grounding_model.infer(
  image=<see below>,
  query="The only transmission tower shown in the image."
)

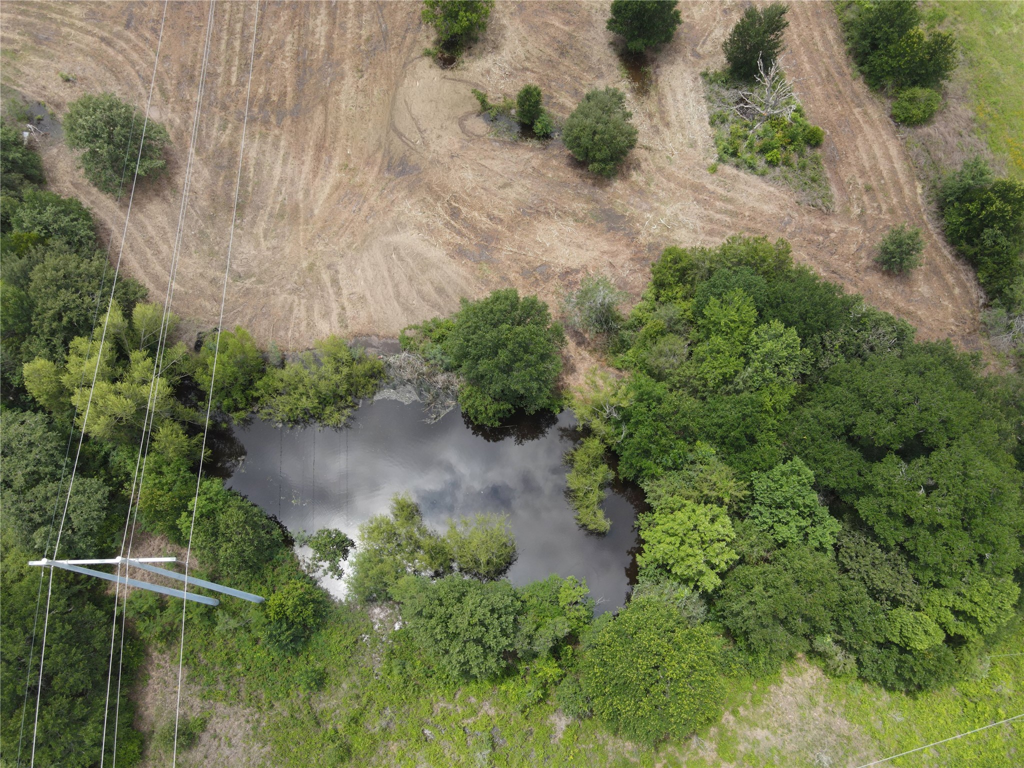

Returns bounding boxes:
[27,556,265,607]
